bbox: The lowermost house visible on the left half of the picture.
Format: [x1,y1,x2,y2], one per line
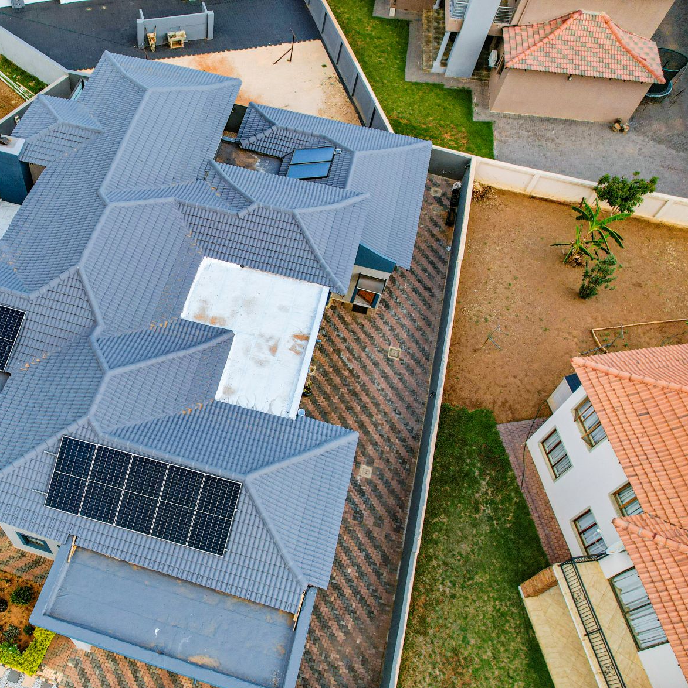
[0,48,436,688]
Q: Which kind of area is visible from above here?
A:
residential area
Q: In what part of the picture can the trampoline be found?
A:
top right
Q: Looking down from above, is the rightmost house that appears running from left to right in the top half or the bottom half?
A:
top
